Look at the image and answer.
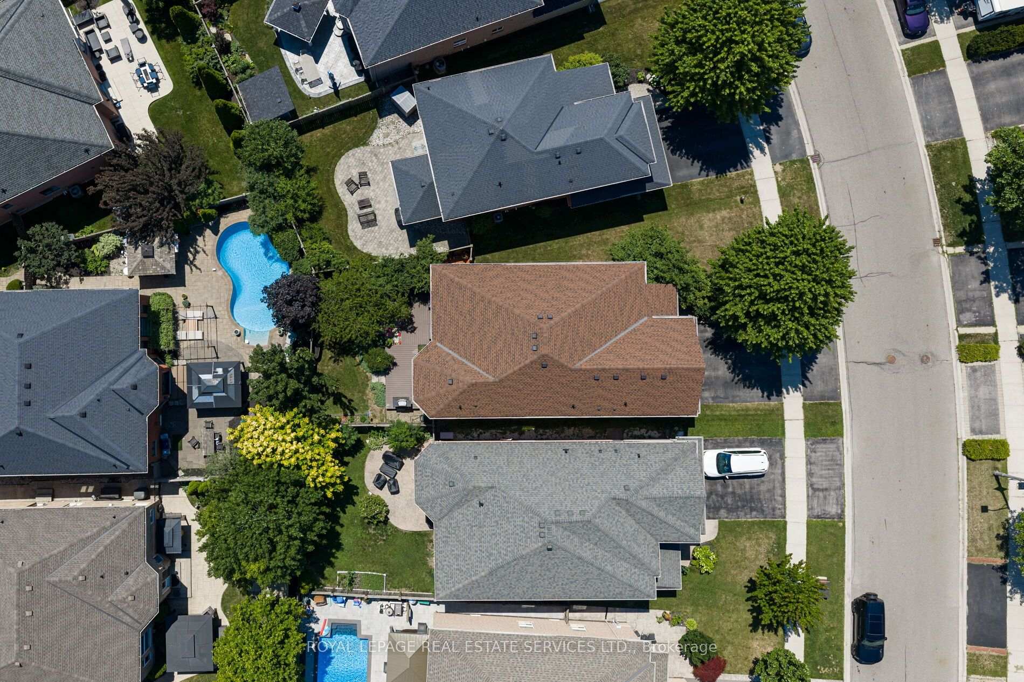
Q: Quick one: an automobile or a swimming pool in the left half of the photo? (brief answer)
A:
swimming pool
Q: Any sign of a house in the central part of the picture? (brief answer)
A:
Yes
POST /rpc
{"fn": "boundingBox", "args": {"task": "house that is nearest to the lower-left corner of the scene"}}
[0,497,178,682]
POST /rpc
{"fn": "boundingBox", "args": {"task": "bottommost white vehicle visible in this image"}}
[705,448,767,480]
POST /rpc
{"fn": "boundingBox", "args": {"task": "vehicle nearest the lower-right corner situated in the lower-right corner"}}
[849,594,887,662]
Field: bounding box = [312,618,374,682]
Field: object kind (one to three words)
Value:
swimming pool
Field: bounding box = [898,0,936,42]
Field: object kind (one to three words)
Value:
car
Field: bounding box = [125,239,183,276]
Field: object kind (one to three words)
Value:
gazebo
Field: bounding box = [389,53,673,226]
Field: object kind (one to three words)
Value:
house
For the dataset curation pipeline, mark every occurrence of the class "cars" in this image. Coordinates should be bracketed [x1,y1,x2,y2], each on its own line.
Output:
[849,594,887,662]
[898,0,936,42]
[705,448,767,480]
[781,0,819,62]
